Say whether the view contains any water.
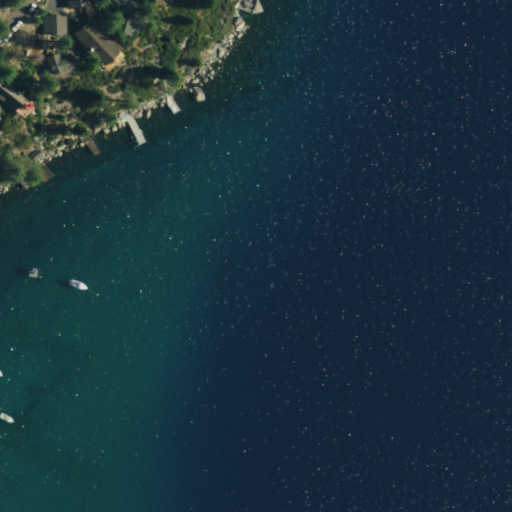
Yes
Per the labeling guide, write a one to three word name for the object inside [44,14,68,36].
house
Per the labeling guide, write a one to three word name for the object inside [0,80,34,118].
house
